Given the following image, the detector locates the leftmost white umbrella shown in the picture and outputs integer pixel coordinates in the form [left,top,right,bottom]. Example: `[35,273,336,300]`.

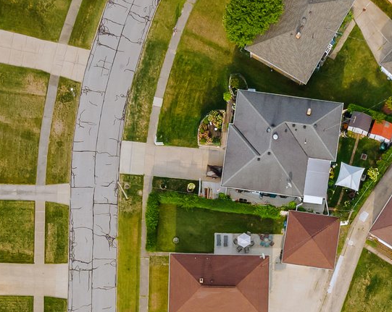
[237,233,251,247]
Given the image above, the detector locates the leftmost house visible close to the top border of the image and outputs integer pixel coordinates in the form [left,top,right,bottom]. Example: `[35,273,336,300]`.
[246,0,358,87]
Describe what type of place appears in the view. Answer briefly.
residential area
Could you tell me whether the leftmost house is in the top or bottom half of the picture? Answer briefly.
bottom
